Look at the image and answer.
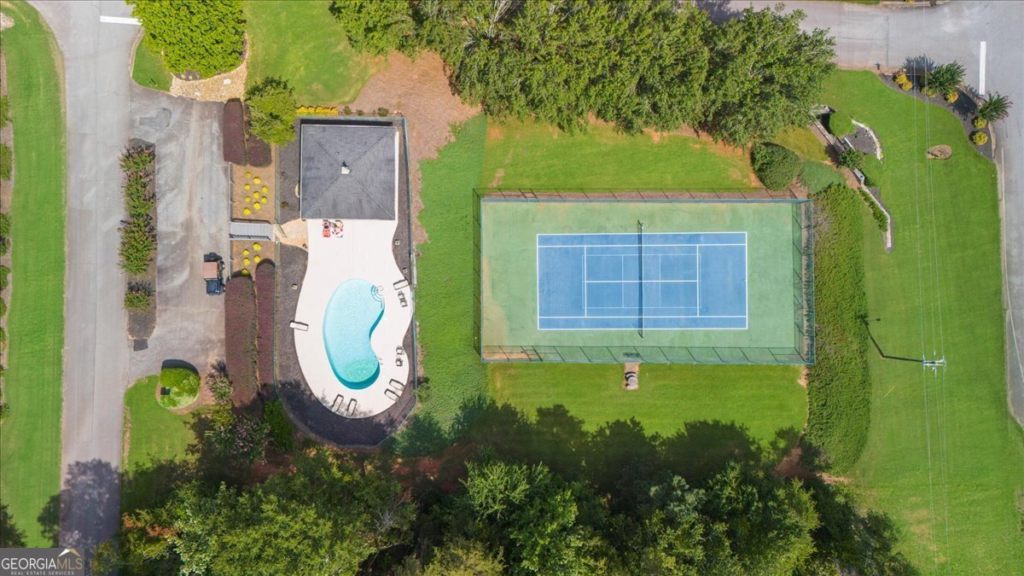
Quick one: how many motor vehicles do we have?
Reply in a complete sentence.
In total, there is 1 motor vehicle in the scene.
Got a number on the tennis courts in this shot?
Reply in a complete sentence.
I count just 1 tennis court.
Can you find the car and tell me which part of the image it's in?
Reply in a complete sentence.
The car is located in the left region of the scene.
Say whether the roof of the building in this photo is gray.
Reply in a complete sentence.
Yes, gray is the color of the roof of the building.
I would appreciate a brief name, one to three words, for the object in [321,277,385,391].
swimming pool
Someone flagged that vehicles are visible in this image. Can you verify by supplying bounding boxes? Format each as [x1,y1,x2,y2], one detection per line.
[206,259,229,297]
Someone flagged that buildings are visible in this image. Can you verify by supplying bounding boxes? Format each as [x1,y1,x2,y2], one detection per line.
[300,124,397,221]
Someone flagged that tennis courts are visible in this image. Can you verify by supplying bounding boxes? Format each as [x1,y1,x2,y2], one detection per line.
[483,203,802,361]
